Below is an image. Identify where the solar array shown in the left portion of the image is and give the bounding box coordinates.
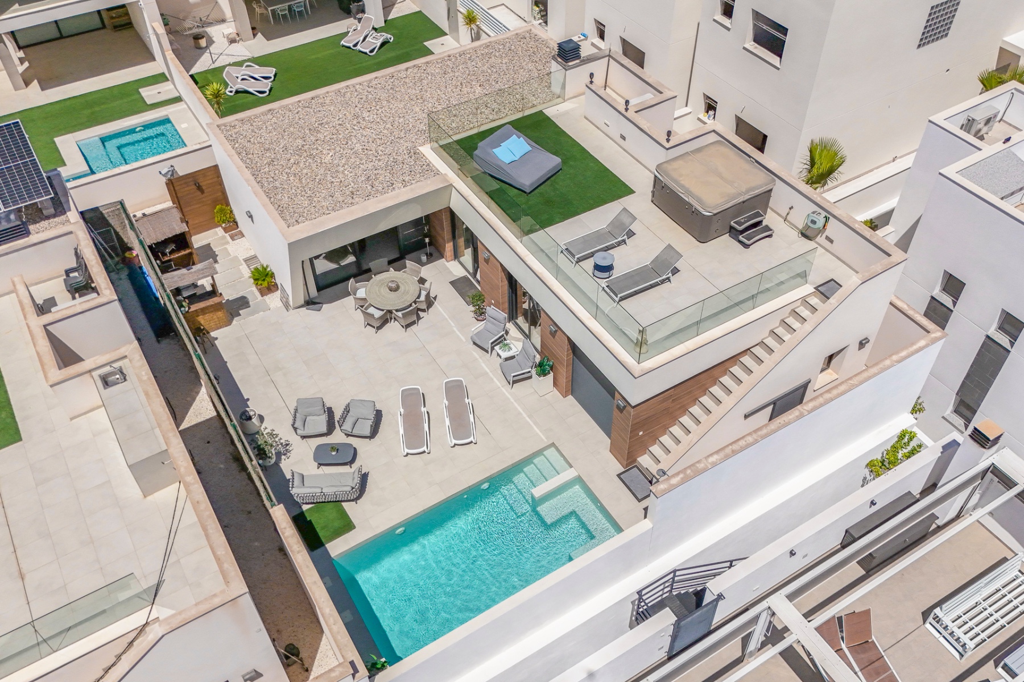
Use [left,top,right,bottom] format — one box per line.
[0,119,56,223]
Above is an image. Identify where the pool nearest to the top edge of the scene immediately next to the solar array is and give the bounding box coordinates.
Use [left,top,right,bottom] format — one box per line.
[66,118,184,181]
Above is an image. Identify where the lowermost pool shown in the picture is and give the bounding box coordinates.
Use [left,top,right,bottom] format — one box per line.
[333,446,622,660]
